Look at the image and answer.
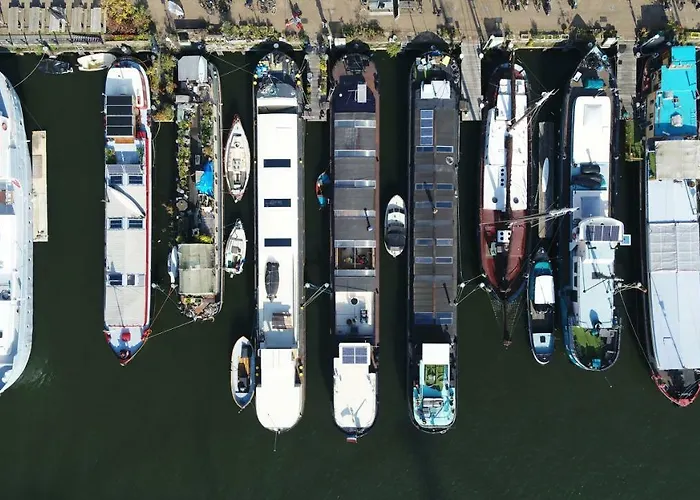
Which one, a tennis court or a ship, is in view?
ship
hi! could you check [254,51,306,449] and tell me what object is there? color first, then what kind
white boat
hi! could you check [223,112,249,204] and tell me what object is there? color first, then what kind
white boat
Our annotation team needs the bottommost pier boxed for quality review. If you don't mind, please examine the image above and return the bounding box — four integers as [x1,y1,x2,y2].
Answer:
[33,131,48,242]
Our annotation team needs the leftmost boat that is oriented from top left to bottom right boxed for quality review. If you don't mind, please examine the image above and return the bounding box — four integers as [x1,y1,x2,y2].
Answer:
[107,186,144,220]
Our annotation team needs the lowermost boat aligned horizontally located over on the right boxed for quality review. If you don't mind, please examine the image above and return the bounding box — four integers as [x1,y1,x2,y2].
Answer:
[570,172,608,187]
